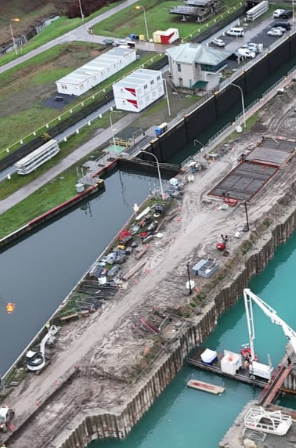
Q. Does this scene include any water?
Yes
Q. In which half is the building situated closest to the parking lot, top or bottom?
top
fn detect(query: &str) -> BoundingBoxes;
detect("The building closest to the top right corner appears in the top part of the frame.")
[159,38,228,102]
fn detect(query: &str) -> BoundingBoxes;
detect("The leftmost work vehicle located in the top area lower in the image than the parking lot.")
[184,153,208,172]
